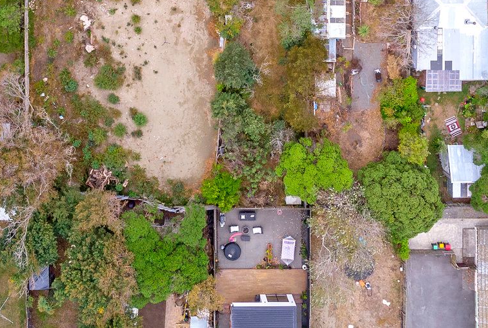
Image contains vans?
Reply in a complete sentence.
No, the picture doesn't show any van.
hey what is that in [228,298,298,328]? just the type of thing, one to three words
house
